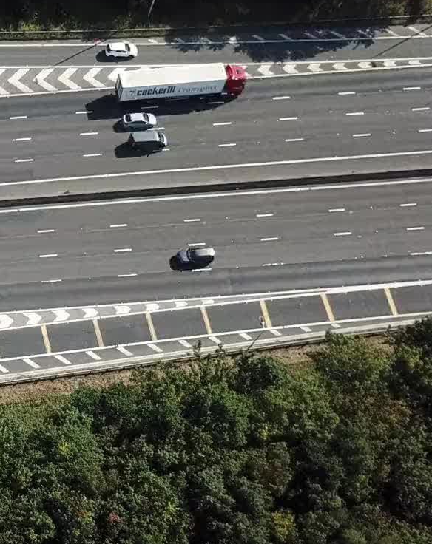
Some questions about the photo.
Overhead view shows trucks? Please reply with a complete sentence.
Yes, looking at the shot, I can spot a truck.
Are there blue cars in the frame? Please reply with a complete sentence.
No, the frame has no blue car in it.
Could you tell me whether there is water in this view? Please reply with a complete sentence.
No, the scene doesn't show any water.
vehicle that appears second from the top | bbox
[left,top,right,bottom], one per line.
[113,66,244,107]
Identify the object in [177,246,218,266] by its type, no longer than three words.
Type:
car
